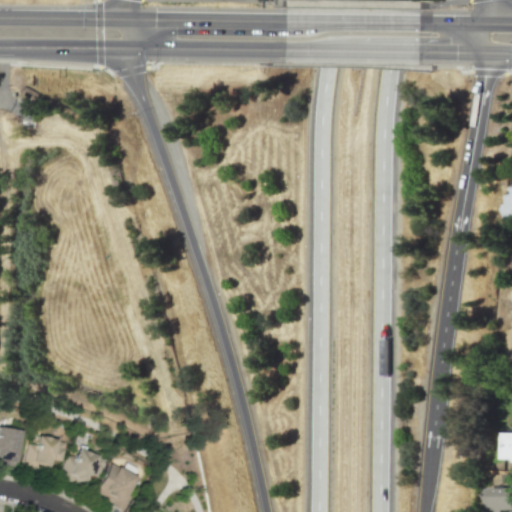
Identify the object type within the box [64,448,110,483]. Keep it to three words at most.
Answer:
house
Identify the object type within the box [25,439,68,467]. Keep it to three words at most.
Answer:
house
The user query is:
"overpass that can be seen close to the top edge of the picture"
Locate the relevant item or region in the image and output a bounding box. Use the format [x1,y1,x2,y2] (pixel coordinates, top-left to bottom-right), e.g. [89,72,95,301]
[286,0,433,71]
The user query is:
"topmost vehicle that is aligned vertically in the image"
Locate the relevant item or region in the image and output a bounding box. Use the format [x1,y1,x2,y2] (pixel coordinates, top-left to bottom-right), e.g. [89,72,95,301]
[470,82,482,127]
